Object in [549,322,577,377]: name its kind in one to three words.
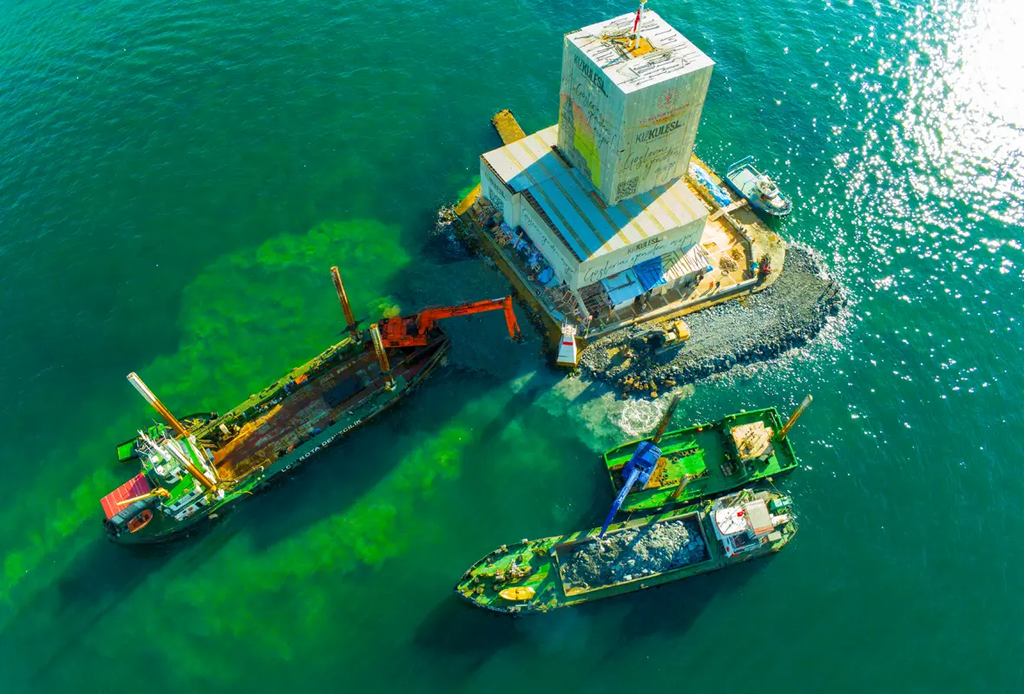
lighthouse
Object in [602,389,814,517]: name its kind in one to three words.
ship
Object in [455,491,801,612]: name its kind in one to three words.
ship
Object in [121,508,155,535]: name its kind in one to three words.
boat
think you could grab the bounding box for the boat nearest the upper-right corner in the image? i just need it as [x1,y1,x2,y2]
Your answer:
[724,156,795,220]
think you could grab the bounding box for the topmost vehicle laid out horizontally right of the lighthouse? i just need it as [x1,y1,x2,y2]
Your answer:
[621,314,689,351]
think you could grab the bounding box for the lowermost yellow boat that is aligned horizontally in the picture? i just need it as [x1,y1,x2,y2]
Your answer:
[500,586,538,602]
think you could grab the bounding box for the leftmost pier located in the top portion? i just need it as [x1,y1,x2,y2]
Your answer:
[494,111,530,144]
